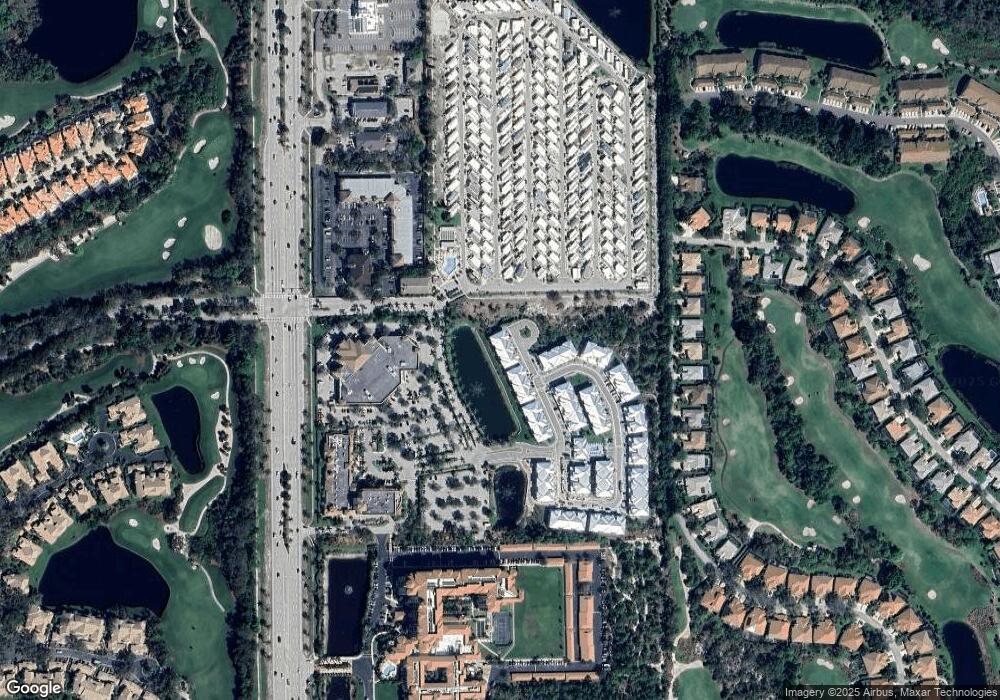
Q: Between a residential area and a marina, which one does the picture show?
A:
residential area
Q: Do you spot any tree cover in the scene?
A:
Yes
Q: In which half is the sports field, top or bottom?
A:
bottom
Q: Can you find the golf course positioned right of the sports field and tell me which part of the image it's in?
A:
right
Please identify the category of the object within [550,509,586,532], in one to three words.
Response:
building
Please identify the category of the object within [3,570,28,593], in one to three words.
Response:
house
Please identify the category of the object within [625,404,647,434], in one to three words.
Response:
building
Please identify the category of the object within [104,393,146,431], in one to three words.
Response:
house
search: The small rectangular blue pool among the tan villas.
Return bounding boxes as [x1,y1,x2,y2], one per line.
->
[66,428,88,444]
